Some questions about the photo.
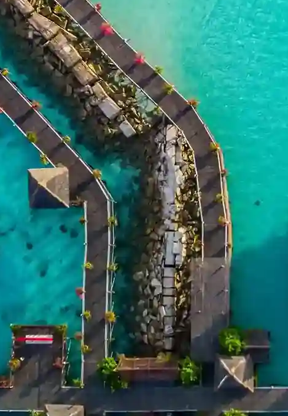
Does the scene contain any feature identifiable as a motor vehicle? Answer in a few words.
No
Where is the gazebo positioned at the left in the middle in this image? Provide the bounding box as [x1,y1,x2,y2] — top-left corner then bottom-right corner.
[27,166,73,209]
